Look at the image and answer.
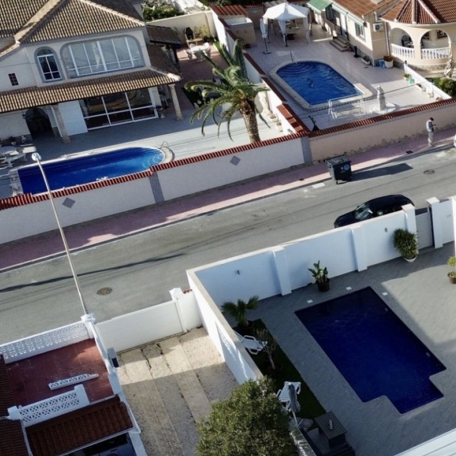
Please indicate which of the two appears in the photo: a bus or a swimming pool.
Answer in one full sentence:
This aerial view contains a swimming pool.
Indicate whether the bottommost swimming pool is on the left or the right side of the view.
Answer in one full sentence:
The bottommost swimming pool appears in the right half of the scene.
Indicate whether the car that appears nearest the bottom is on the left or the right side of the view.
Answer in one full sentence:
The car that appears nearest the bottom appears in the right half of the scene.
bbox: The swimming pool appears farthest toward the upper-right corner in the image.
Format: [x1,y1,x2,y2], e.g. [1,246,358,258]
[269,58,369,109]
